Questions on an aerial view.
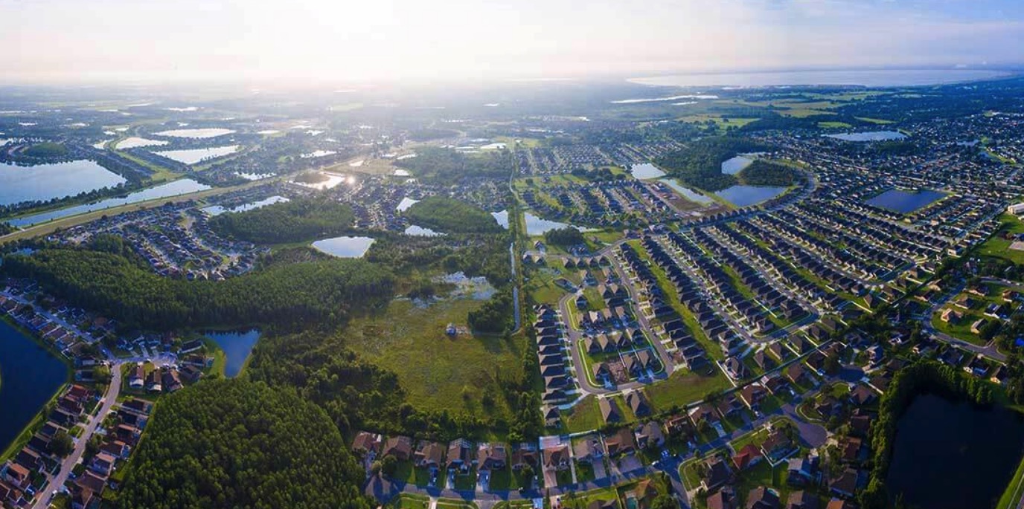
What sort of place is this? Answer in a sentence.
What you see here is a residential area.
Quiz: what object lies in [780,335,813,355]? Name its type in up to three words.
house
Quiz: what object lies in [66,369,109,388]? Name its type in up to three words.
house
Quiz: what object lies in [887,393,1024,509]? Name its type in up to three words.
pond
